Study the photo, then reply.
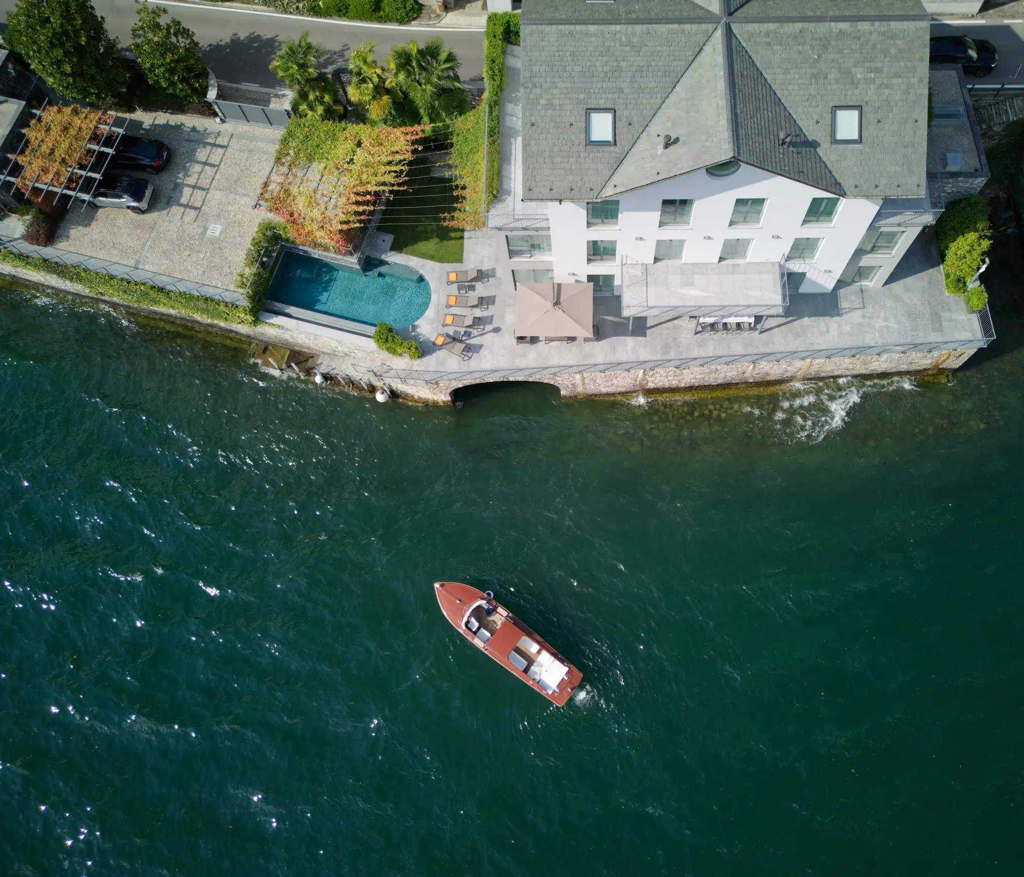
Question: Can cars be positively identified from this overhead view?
Yes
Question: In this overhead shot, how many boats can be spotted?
1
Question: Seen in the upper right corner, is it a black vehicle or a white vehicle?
black vehicle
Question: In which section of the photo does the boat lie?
bottom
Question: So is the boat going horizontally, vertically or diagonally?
diagonally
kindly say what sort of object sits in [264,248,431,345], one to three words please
swimming pool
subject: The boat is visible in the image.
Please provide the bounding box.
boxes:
[433,581,583,707]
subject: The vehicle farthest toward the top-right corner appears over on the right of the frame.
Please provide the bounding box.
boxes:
[928,36,998,78]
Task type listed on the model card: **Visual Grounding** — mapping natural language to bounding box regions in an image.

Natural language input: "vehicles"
[89,132,169,175]
[76,167,154,212]
[928,36,998,78]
